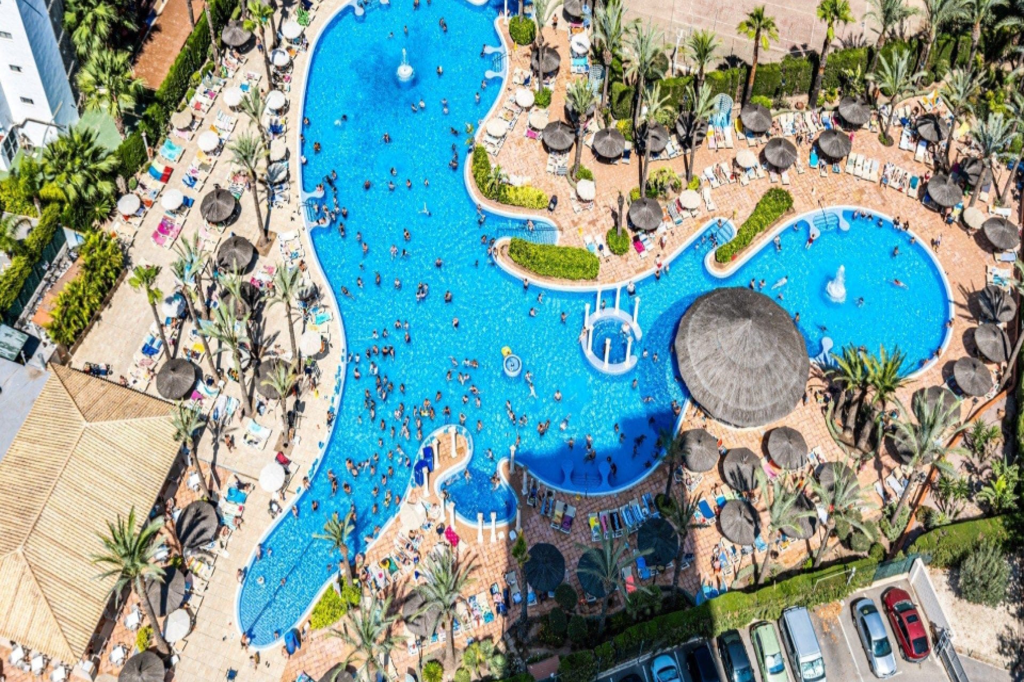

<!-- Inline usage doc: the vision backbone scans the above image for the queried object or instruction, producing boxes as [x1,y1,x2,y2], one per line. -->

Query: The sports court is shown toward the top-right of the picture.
[613,0,1003,78]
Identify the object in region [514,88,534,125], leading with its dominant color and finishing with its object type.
white umbrella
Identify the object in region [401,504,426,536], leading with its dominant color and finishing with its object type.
white umbrella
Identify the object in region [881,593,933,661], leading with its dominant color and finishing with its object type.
red car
